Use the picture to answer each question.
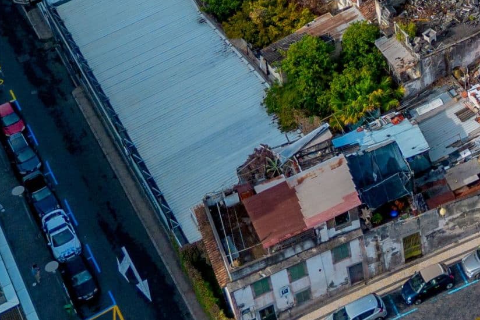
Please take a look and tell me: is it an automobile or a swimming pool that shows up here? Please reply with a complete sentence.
Visible in the photo is an automobile.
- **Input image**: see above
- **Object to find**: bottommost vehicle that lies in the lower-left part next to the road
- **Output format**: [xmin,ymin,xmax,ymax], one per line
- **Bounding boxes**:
[61,247,107,312]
